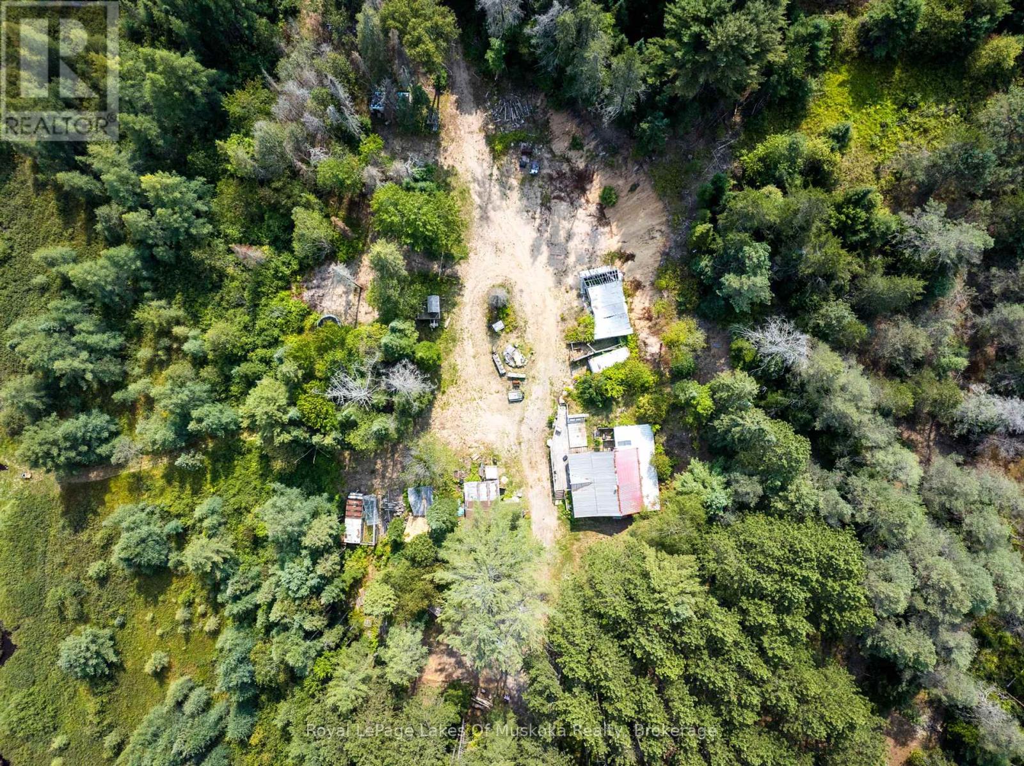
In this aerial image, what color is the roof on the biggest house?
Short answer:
white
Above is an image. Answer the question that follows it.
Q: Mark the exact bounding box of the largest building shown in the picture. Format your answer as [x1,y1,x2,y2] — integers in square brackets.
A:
[568,425,658,518]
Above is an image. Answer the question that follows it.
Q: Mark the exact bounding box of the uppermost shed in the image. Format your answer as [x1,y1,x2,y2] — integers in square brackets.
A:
[579,262,633,341]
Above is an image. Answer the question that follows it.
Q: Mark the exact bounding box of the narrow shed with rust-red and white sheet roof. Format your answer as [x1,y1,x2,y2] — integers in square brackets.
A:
[343,491,365,544]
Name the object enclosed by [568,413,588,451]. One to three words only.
shed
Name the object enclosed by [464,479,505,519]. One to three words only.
shed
